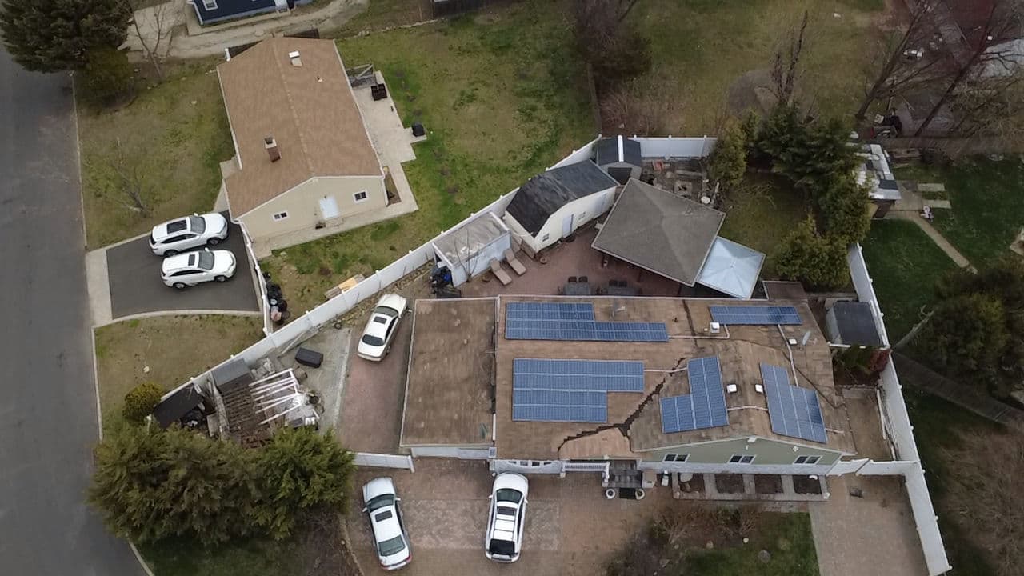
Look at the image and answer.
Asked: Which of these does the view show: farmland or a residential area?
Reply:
residential area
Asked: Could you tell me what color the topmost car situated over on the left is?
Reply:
white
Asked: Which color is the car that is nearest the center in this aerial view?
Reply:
white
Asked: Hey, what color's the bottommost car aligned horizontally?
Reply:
white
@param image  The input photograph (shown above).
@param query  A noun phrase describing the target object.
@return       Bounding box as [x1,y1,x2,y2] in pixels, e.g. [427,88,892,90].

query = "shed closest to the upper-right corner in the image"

[850,143,902,218]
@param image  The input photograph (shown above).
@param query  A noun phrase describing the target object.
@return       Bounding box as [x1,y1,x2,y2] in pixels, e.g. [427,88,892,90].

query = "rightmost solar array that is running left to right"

[709,306,802,325]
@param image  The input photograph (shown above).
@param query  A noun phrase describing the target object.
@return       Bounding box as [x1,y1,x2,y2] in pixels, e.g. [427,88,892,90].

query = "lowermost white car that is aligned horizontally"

[161,249,238,291]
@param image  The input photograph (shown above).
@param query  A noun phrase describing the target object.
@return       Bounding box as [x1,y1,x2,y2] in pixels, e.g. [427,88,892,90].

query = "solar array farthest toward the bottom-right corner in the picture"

[760,363,827,443]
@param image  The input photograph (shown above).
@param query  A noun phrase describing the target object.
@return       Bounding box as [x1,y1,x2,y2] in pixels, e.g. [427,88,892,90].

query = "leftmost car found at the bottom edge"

[361,476,415,576]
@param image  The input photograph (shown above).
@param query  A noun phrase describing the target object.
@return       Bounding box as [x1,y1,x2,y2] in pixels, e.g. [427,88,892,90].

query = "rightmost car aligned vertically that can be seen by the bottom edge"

[483,472,529,570]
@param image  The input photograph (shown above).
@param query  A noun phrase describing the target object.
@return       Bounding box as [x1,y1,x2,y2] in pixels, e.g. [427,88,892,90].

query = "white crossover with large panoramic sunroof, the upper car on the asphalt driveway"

[152,216,229,258]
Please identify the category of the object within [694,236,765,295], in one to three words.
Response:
gazebo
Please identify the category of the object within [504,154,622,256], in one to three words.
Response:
shed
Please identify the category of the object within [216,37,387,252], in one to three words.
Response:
house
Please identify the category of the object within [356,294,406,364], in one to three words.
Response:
car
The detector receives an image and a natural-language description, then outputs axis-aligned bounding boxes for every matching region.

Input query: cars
[483,472,529,570]
[161,249,238,291]
[356,294,406,364]
[361,476,415,576]
[152,216,229,258]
